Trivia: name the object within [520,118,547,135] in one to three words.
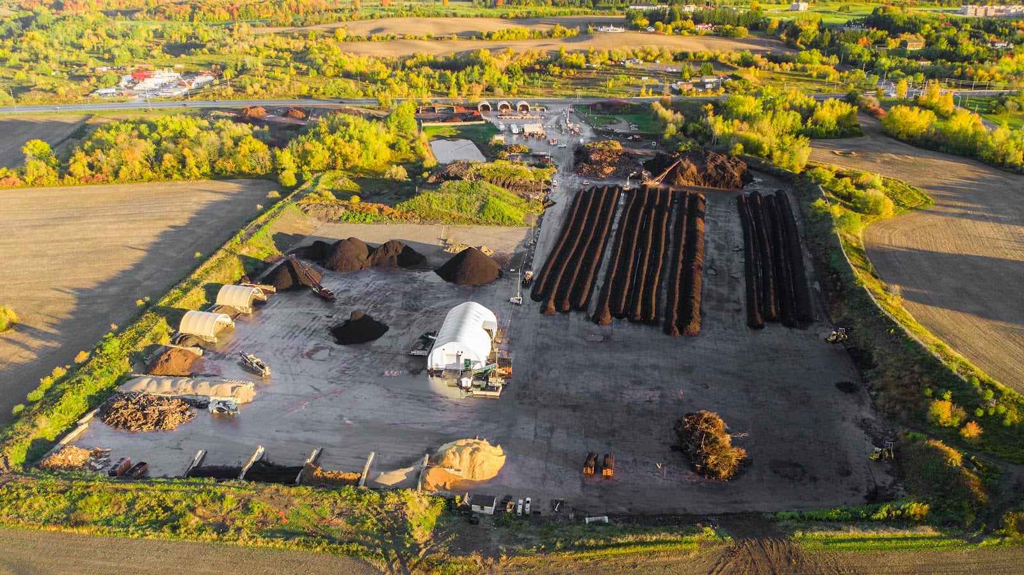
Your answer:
building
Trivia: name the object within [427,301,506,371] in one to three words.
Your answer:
building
